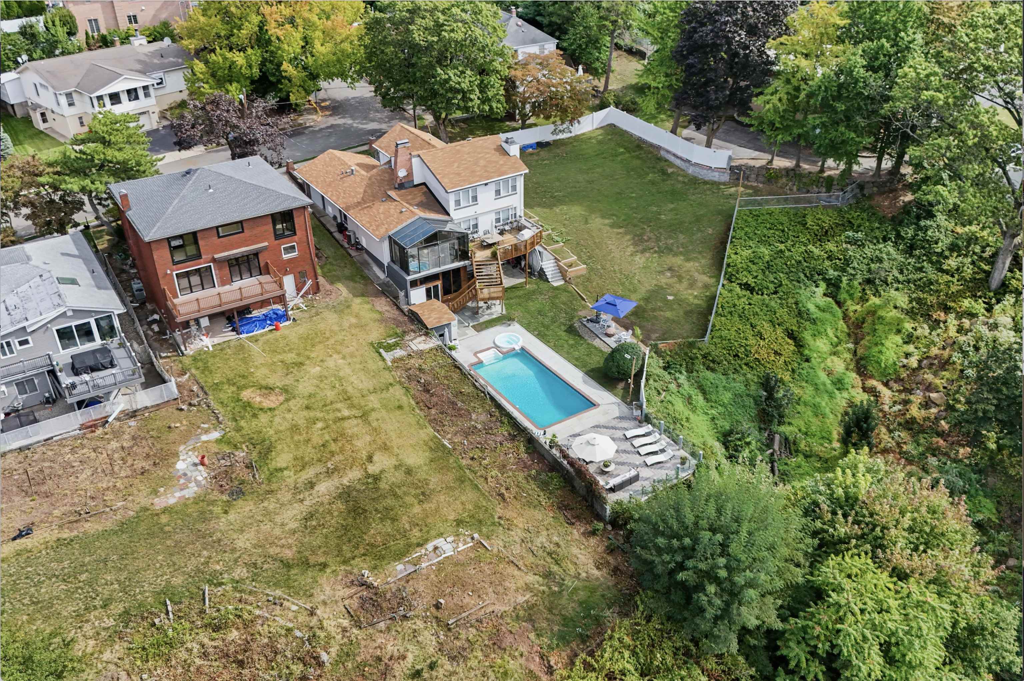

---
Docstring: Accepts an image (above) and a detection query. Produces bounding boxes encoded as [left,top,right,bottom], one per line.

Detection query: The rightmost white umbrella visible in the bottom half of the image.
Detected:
[564,424,617,463]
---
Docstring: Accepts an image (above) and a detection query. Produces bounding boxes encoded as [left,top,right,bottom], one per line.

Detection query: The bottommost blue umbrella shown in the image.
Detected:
[589,288,638,323]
